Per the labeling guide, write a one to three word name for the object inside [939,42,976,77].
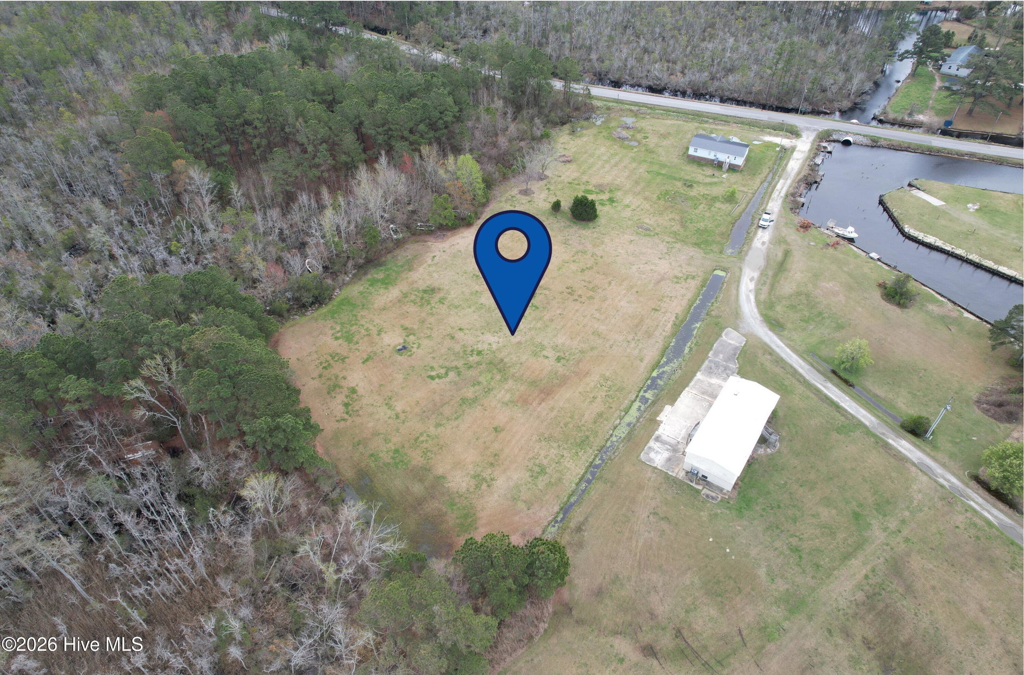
house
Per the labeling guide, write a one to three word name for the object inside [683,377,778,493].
building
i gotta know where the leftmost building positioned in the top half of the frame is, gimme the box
[688,133,751,169]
